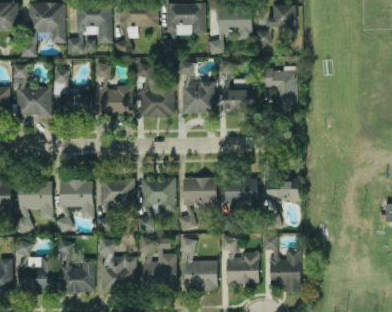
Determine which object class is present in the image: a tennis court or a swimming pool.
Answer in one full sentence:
The image shows a swimming pool.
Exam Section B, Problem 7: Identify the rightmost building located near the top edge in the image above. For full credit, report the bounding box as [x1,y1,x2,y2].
[258,4,298,47]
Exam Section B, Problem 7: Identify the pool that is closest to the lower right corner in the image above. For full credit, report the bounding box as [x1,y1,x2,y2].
[279,234,298,256]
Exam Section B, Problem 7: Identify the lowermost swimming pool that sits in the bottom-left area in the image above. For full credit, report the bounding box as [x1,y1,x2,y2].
[34,239,54,257]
